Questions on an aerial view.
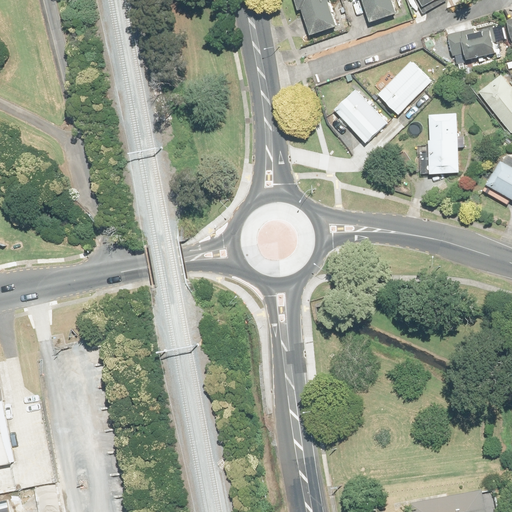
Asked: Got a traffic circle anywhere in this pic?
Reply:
Yes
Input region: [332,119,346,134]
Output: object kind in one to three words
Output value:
car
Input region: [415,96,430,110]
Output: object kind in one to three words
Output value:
vehicle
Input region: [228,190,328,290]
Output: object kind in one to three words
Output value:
roundabout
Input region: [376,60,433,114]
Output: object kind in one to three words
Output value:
house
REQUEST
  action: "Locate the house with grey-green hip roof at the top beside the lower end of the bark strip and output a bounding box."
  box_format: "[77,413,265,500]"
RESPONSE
[294,0,334,34]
